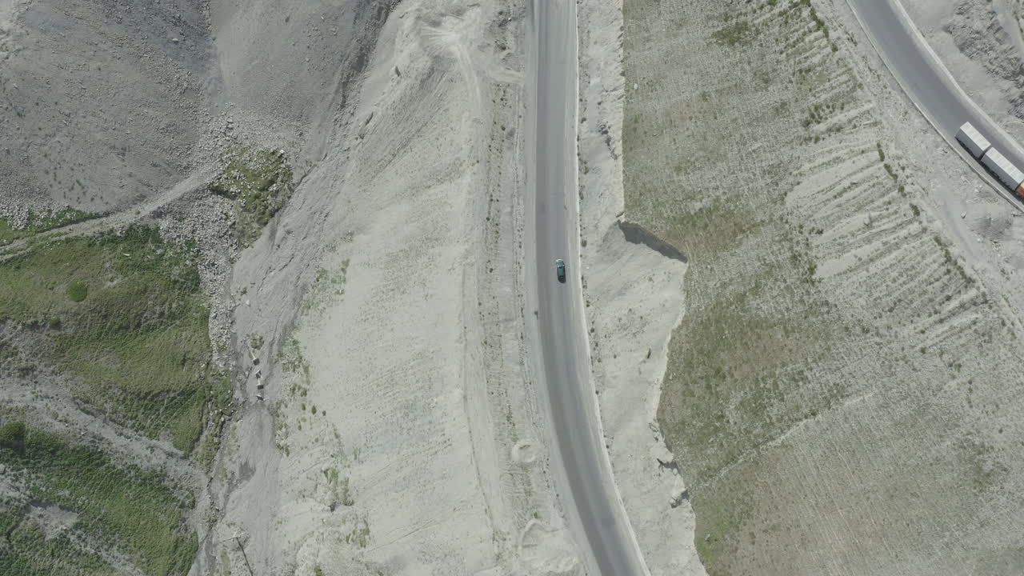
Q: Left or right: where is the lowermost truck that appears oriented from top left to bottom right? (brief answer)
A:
right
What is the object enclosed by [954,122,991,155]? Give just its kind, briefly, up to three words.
trailer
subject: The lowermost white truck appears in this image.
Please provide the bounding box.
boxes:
[981,148,1024,196]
